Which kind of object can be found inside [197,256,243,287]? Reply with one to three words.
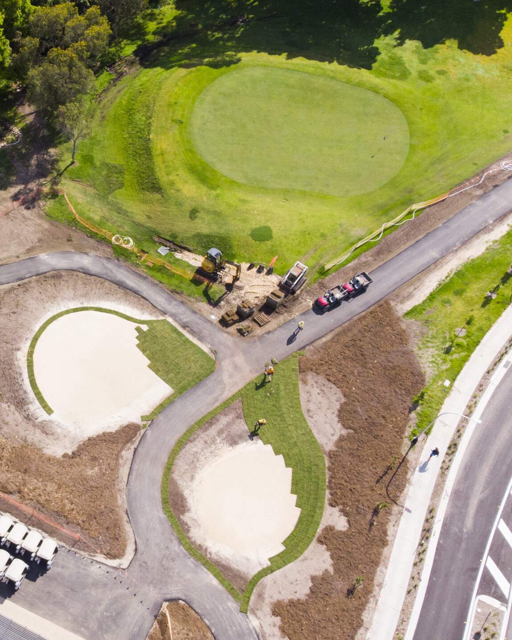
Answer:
work vehicle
